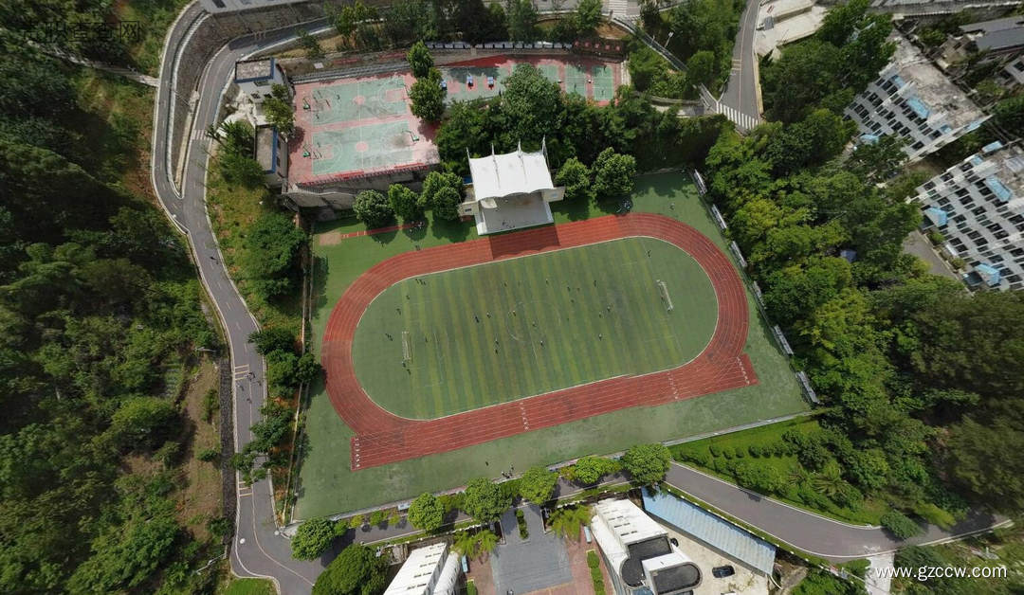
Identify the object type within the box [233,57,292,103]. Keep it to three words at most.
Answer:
house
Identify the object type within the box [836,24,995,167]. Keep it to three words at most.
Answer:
building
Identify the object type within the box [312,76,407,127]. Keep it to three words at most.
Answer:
basketball court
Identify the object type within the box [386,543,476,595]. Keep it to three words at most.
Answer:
building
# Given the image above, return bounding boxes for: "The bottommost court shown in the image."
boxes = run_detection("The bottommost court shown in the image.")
[312,120,413,175]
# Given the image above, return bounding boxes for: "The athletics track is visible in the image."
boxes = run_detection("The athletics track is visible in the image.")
[321,212,761,471]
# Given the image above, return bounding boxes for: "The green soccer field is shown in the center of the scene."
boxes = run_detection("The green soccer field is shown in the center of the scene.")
[352,237,718,419]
